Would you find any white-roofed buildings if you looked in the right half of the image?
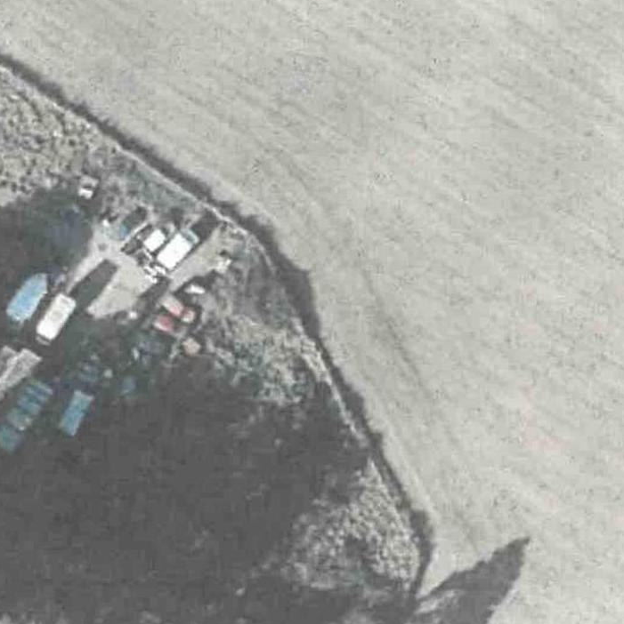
No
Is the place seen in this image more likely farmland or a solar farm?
farmland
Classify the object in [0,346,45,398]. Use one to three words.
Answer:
trailer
